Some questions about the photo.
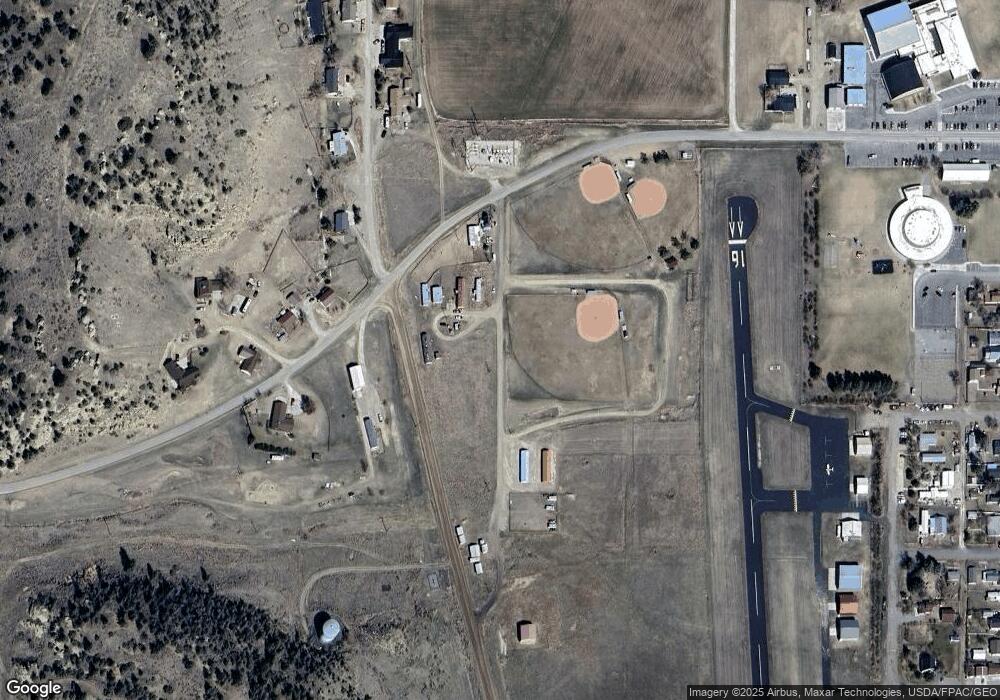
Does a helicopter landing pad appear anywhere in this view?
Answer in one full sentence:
No, there's no helicopter landing pad here.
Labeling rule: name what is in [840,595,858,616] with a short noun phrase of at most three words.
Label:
hangar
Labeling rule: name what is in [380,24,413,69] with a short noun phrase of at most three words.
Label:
house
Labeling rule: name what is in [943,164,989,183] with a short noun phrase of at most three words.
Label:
building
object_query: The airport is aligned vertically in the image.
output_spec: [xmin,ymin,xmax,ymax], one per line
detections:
[728,196,869,700]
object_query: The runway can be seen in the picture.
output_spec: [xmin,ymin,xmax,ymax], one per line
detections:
[728,196,771,700]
